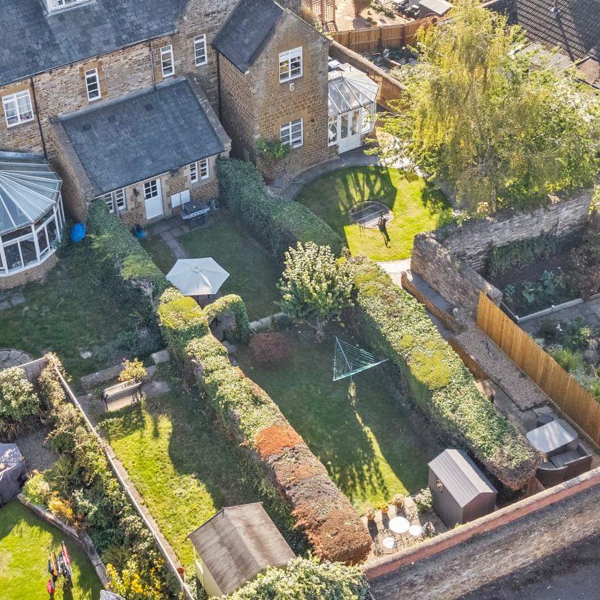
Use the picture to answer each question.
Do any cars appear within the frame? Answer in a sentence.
No, there's no car here.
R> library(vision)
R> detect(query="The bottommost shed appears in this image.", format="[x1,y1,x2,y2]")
[182,504,297,600]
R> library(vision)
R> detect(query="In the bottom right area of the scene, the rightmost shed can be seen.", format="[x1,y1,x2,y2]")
[422,447,498,530]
